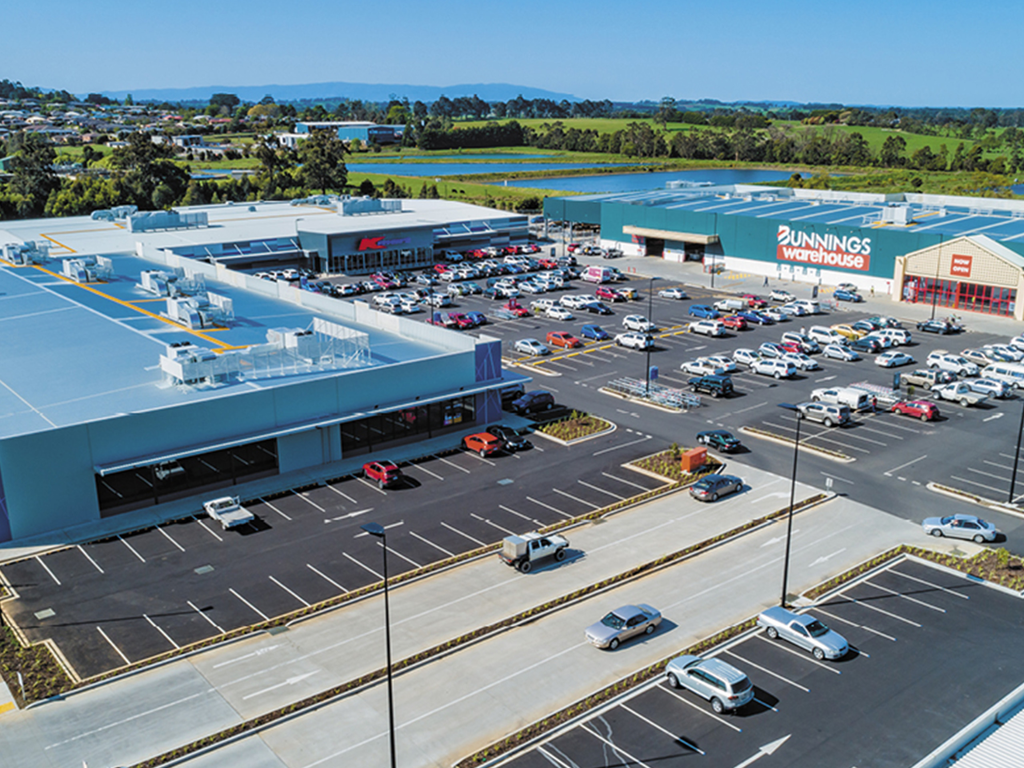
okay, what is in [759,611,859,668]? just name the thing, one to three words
vehicle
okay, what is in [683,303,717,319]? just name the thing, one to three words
car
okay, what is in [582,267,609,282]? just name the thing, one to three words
vehicle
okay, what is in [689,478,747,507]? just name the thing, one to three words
car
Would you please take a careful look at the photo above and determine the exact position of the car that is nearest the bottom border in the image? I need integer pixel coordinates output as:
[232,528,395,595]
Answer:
[668,657,765,718]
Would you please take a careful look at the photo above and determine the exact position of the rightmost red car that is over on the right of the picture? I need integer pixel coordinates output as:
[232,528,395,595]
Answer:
[892,401,944,423]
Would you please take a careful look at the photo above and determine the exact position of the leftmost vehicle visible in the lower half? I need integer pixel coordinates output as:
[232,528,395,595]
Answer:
[207,496,256,535]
